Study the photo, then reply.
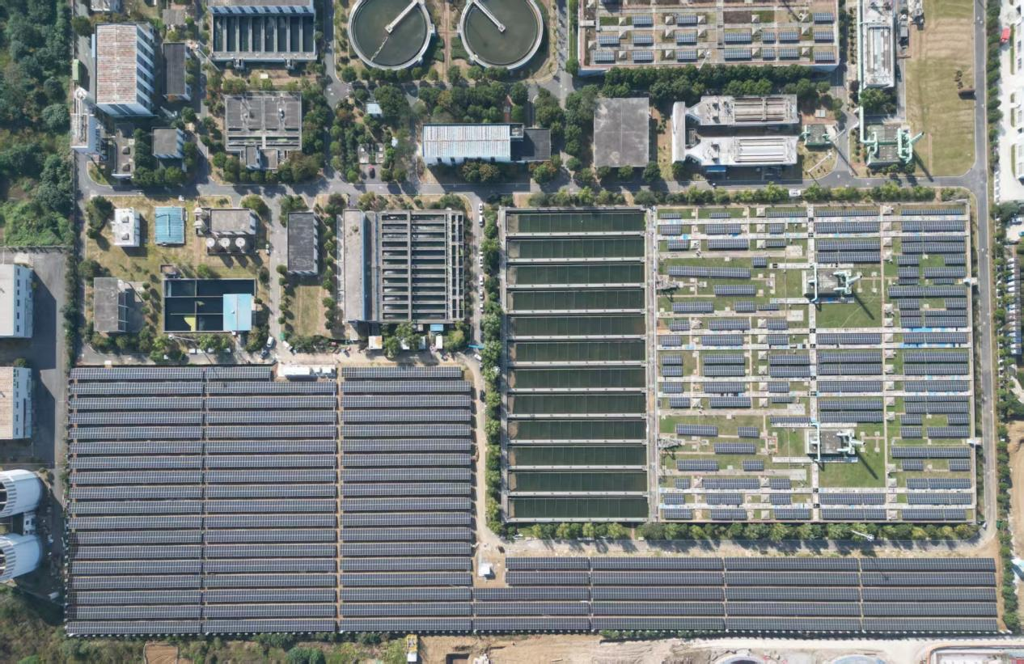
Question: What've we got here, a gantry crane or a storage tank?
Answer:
storage tank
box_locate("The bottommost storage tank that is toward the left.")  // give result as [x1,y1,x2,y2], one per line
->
[0,534,42,588]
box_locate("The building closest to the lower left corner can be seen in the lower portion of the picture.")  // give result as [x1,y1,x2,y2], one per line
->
[22,512,40,534]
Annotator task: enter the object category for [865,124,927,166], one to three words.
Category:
building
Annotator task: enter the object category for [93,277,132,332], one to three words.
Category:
shed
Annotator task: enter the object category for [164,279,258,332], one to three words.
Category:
storage tank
